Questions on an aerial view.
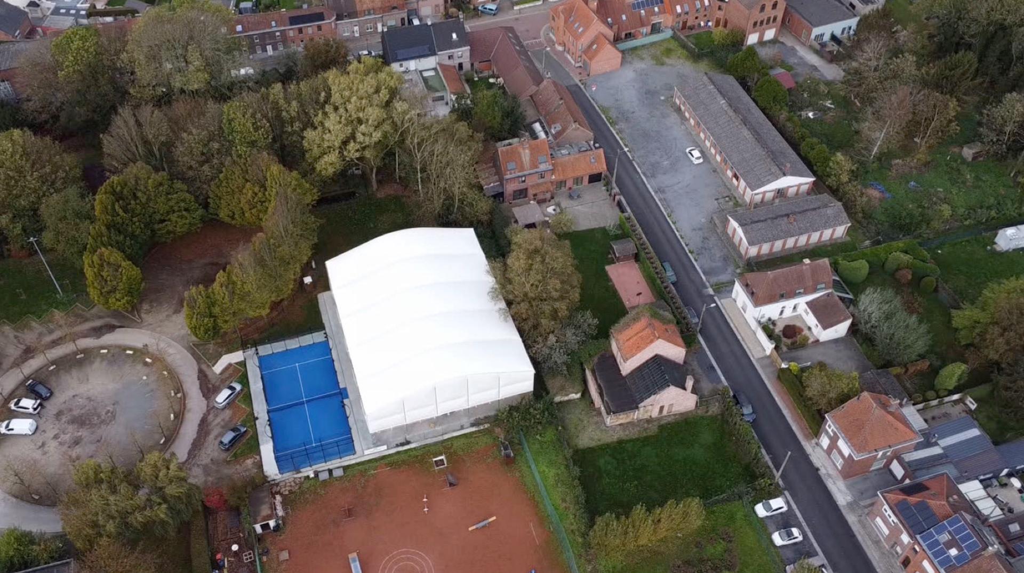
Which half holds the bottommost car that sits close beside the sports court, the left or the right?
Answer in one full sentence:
The bottommost car that sits close beside the sports court sits on the left side.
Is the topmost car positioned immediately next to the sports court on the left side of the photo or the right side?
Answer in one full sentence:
You can find the topmost car positioned immediately next to the sports court on the left side of the picture.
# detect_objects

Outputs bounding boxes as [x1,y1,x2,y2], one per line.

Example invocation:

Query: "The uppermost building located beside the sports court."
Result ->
[326,226,531,432]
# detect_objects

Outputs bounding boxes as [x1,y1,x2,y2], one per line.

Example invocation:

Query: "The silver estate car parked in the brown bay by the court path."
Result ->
[210,378,243,407]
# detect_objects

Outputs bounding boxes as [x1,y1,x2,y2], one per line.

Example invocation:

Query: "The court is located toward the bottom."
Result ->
[248,326,356,474]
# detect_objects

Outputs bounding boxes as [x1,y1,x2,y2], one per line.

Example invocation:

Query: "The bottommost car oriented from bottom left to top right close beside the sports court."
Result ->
[212,421,248,450]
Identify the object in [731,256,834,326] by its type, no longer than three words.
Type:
house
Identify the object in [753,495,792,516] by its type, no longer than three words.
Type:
car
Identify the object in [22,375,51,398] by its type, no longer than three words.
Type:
car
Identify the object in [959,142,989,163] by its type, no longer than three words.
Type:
shed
